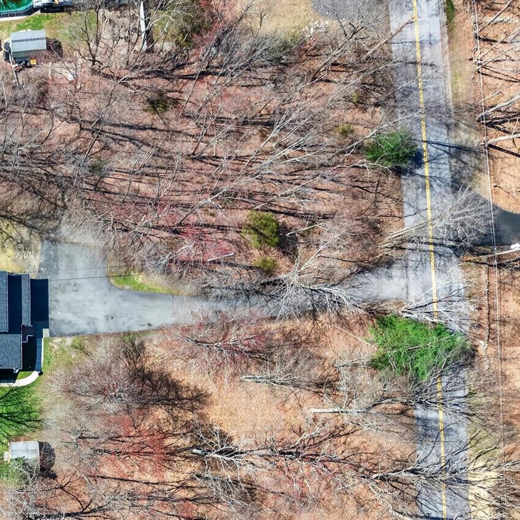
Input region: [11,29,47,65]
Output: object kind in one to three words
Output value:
shed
